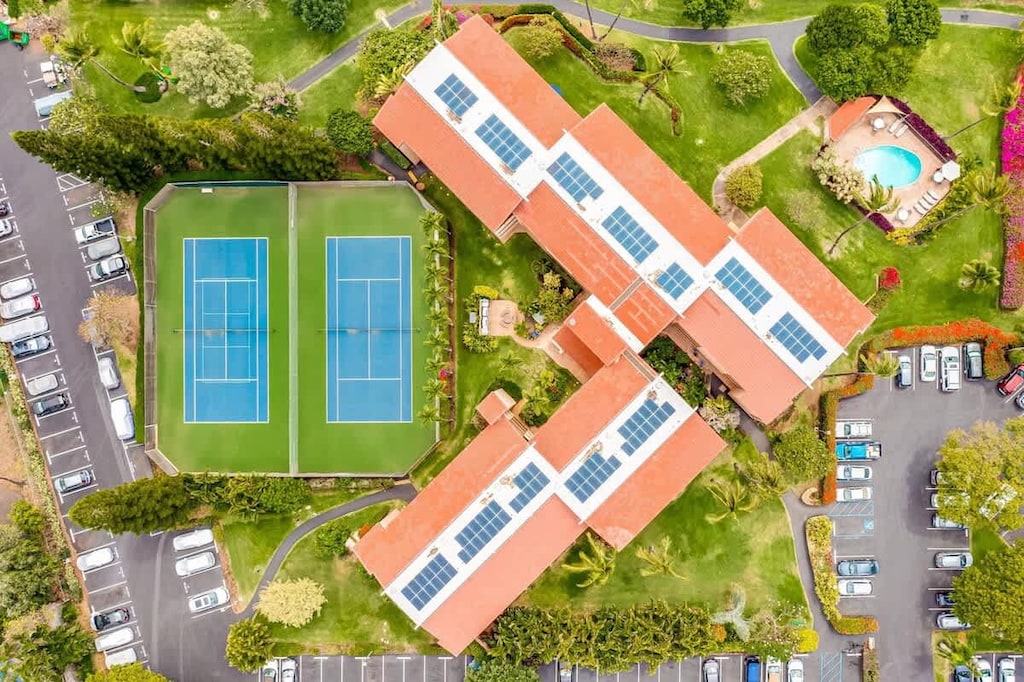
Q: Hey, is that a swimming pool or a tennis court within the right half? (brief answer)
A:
swimming pool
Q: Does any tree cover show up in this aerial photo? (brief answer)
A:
Yes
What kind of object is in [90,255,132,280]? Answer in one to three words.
car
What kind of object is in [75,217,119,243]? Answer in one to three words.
vehicle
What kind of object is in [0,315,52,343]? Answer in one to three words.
vehicle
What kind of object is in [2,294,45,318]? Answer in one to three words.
car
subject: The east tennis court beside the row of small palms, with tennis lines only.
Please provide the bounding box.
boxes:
[297,187,437,472]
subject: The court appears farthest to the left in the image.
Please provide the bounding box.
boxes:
[157,187,289,472]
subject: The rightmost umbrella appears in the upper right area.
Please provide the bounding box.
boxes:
[941,160,961,179]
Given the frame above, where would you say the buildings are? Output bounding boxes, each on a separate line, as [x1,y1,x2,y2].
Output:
[374,14,875,423]
[354,344,728,657]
